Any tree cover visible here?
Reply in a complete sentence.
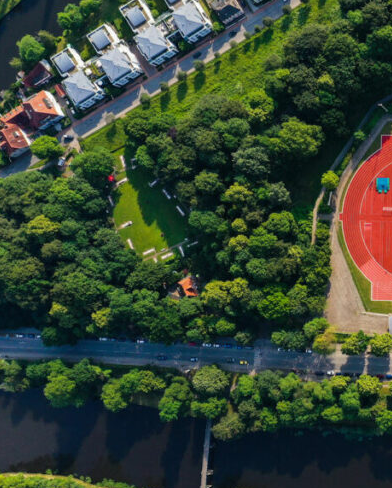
Yes, tree cover shows up in the scene.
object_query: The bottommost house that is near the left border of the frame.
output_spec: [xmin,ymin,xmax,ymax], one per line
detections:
[0,123,36,154]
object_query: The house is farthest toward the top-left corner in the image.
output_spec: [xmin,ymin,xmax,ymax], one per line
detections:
[21,60,56,89]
